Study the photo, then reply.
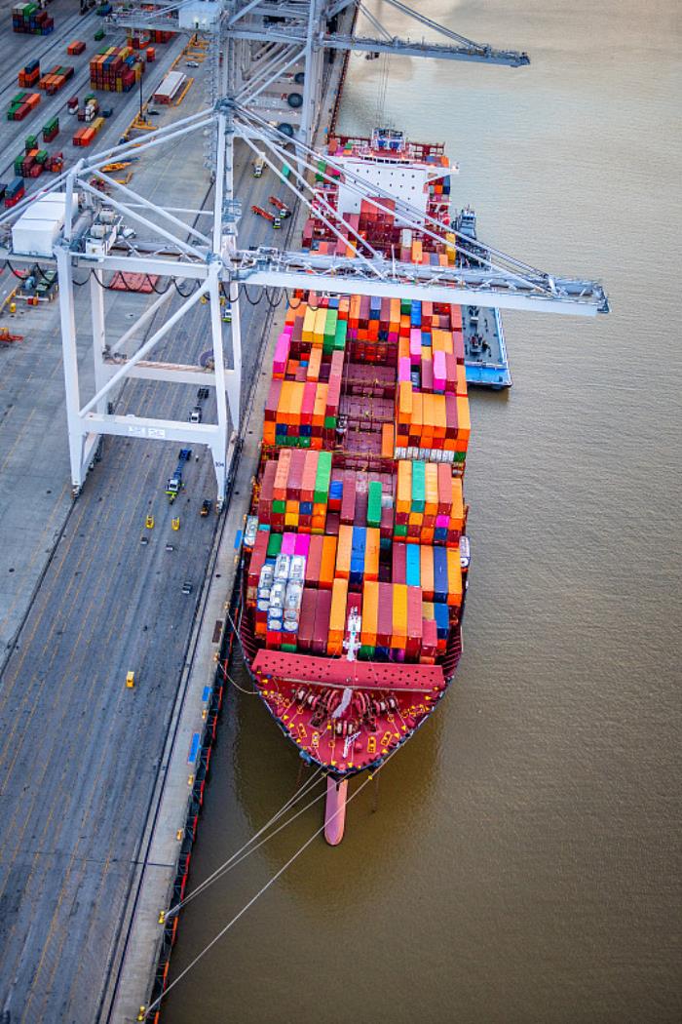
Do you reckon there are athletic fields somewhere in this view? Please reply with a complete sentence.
No, this view has no athletic field in it.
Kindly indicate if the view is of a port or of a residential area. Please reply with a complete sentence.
The picture captures a port.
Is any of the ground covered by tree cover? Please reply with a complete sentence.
No, there's no tree cover in this view.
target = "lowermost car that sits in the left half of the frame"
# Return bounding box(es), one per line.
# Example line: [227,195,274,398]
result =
[180,574,195,594]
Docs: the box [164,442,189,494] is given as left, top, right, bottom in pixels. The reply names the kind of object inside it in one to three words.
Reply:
truck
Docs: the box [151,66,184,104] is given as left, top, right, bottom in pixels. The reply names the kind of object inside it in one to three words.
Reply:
shed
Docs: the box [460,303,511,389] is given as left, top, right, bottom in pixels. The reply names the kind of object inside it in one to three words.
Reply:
ship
